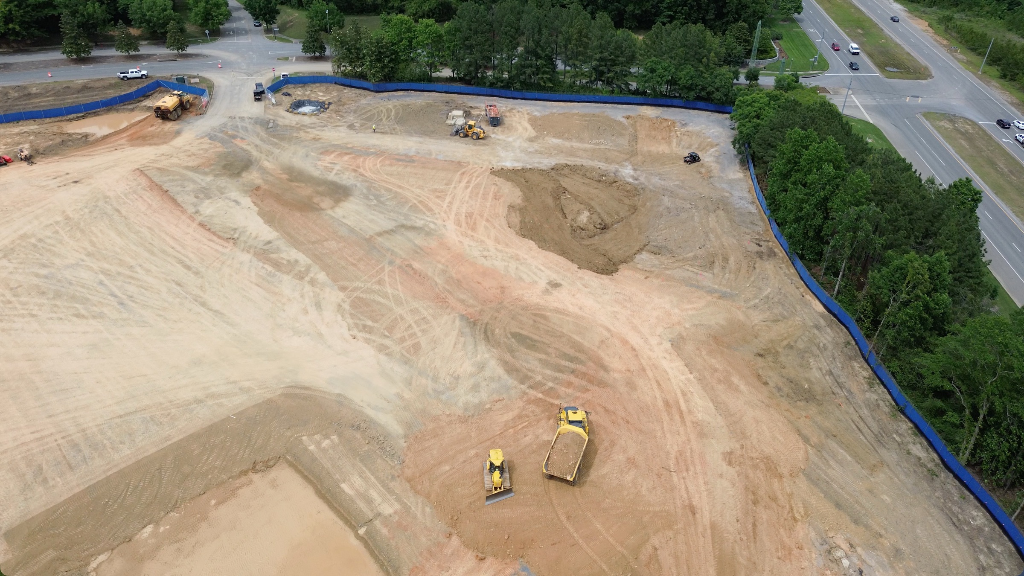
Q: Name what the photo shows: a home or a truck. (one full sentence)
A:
There is a truck in the scene.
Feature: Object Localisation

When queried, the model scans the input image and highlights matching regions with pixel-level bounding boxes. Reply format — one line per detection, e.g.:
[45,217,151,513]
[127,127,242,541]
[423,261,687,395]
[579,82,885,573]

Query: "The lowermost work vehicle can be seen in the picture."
[483,452,513,506]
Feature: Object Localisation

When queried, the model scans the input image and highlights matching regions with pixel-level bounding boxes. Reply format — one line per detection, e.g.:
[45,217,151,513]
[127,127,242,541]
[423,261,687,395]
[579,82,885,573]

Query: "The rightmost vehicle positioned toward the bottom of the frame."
[543,409,588,487]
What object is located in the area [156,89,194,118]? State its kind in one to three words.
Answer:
truck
